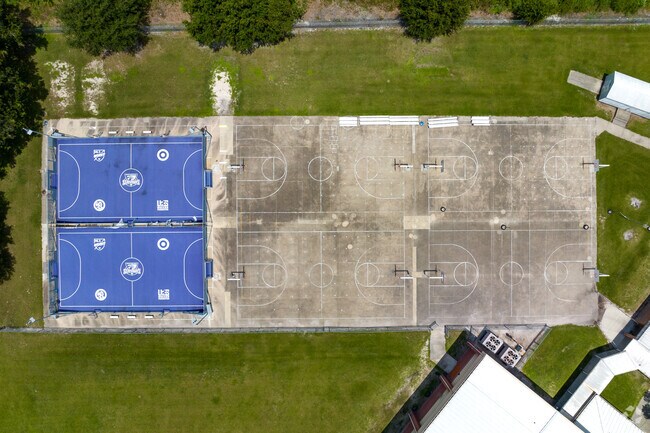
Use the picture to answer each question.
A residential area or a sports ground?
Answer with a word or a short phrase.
sports ground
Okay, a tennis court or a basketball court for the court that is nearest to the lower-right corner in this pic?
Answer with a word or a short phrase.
basketball court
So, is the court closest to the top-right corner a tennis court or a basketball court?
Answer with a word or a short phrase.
basketball court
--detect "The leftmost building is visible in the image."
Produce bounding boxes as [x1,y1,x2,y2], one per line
[404,343,586,433]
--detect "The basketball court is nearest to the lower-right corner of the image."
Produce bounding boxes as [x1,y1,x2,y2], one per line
[429,230,592,317]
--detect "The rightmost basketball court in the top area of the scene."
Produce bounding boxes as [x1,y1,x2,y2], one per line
[428,124,592,211]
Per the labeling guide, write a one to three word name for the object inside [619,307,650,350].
building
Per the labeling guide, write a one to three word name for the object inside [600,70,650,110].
shed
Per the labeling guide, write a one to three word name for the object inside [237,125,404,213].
basketball court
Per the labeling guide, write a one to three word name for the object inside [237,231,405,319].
basketball court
